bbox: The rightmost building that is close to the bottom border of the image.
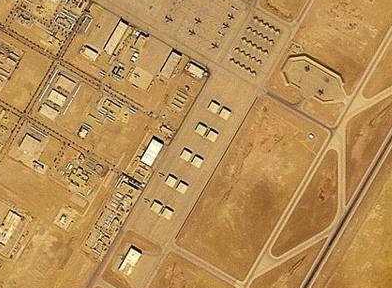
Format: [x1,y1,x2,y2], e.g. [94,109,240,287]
[118,248,141,276]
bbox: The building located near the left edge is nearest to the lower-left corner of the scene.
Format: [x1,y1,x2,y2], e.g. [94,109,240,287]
[0,212,20,247]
